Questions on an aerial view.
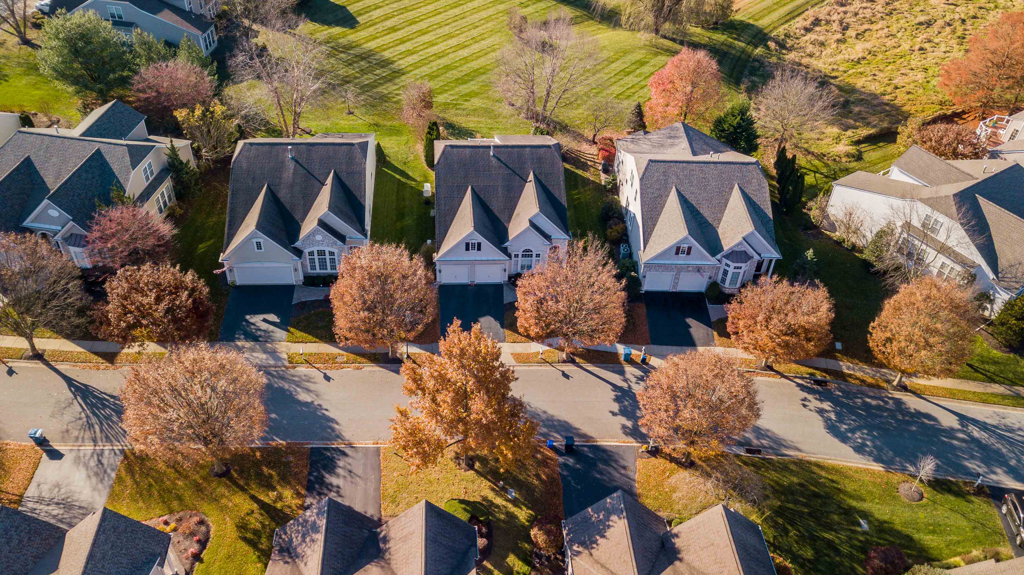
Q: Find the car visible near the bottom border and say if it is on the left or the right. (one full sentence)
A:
The car visible near the bottom border sits on the right side.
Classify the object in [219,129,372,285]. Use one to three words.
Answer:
house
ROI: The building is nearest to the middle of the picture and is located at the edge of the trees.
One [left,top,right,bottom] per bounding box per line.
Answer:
[432,137,572,284]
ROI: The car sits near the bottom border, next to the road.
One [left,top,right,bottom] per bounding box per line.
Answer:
[1001,492,1024,549]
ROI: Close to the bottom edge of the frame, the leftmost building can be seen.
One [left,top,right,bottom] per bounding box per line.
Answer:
[0,502,174,575]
